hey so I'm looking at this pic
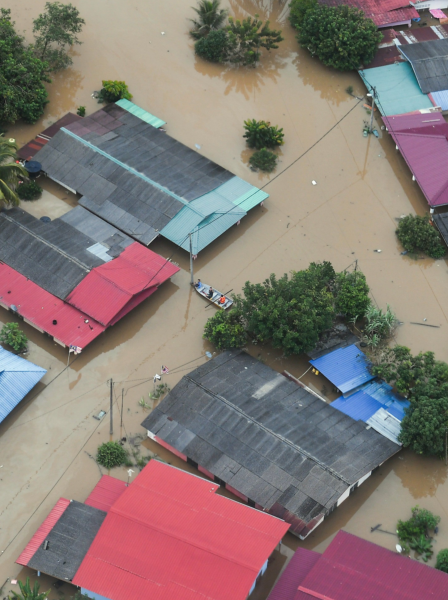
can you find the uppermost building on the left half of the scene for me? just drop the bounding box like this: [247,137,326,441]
[17,98,270,263]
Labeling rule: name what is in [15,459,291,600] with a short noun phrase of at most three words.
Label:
house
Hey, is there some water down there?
Yes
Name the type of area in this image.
residential area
